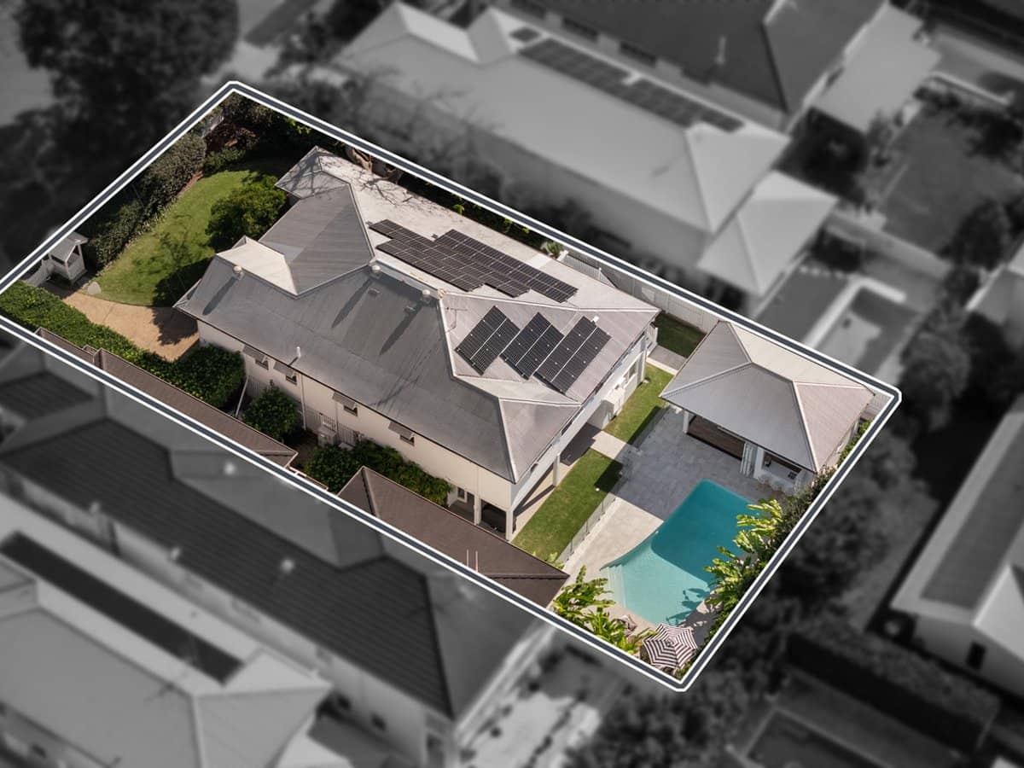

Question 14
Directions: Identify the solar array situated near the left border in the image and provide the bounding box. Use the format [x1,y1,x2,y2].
[0,530,238,672]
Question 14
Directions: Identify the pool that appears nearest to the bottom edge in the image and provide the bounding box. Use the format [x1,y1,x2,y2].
[595,475,779,628]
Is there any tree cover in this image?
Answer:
Yes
